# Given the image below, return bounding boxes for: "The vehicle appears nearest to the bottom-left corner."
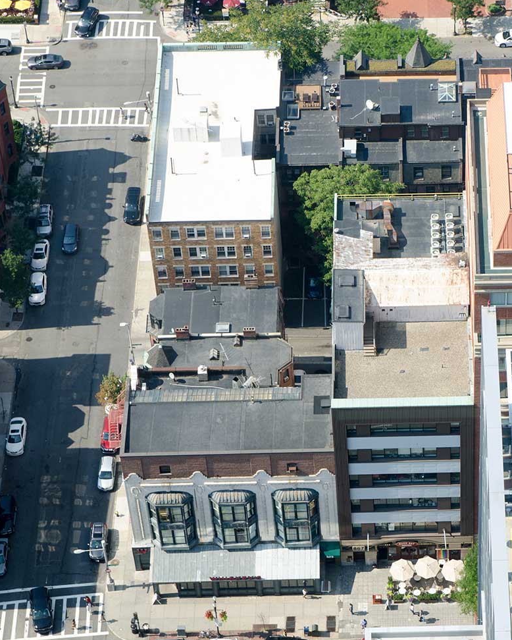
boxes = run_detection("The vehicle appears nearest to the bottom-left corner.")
[29,584,52,634]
